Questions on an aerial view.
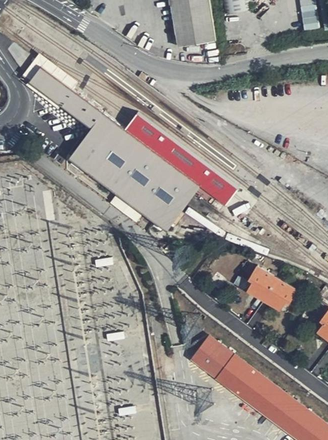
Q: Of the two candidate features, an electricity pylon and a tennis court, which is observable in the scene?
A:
electricity pylon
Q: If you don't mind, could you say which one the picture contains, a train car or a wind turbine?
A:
train car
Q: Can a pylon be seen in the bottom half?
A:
Yes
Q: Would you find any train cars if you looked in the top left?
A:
No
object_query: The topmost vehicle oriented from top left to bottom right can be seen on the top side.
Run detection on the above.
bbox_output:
[138,70,156,84]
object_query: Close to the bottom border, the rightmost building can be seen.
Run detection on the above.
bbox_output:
[192,332,328,440]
